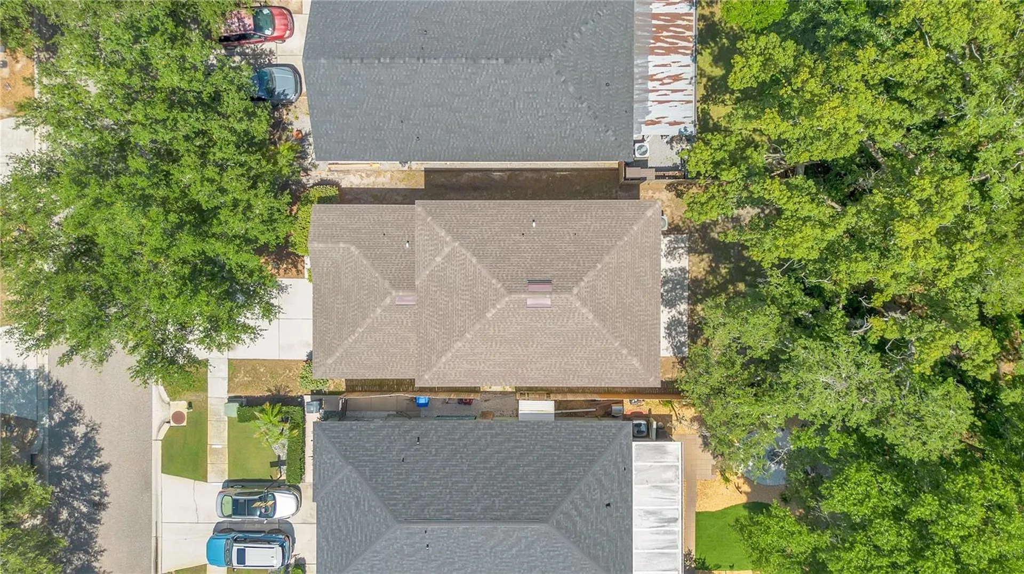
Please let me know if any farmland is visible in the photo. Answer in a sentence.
No, no farmland is visible.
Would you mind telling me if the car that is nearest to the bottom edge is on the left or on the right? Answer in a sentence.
The car that is nearest to the bottom edge appears in the left half of the scene.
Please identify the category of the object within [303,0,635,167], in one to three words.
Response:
house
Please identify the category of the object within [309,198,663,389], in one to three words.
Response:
house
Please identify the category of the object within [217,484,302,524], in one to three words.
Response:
car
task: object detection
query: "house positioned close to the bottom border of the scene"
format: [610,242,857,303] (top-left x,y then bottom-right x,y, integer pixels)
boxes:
[311,419,634,574]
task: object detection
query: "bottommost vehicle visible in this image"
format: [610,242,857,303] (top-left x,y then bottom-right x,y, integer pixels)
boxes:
[208,529,293,573]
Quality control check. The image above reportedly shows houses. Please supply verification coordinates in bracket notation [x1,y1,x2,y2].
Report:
[303,0,635,167]
[309,198,663,389]
[311,419,634,574]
